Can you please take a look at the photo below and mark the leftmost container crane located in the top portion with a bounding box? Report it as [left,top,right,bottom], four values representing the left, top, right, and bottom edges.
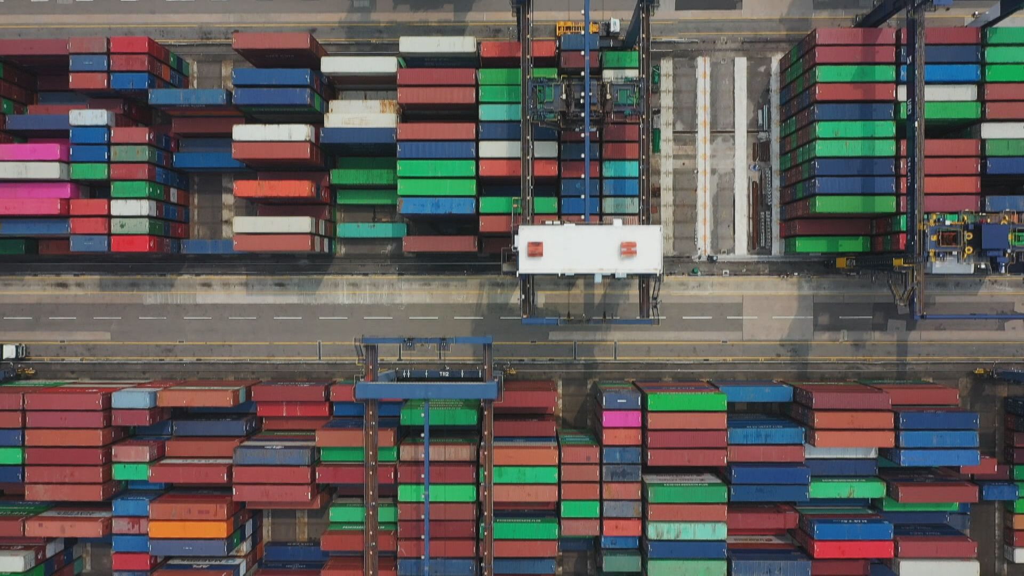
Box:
[504,0,662,324]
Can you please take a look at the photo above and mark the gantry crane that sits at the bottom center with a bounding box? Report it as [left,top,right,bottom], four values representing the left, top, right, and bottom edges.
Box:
[353,337,509,576]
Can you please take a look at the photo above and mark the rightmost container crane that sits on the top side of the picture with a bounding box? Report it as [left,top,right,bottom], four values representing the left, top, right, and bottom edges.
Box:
[797,0,1024,320]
